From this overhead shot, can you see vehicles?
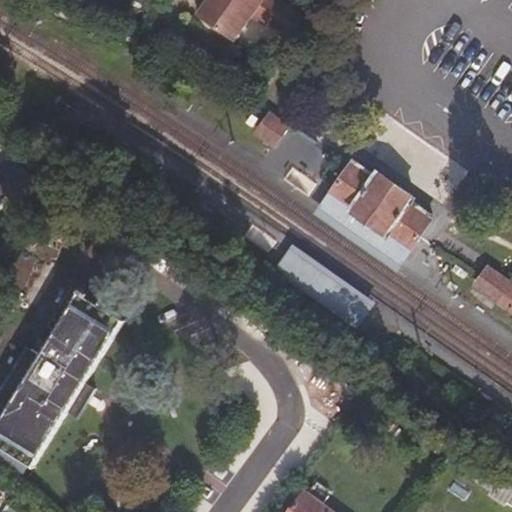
Yes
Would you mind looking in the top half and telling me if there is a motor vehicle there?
Yes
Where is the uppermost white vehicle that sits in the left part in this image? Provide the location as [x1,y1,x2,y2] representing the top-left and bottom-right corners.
[158,306,178,323]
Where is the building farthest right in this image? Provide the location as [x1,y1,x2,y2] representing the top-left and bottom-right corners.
[472,264,512,318]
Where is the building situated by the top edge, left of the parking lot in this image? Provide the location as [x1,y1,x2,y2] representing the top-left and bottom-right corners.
[194,0,276,44]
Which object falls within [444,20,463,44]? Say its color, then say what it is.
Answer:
gray car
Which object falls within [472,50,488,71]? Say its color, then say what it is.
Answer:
white car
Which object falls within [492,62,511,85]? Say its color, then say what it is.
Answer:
white car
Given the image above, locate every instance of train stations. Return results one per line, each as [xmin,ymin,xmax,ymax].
[314,160,432,270]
